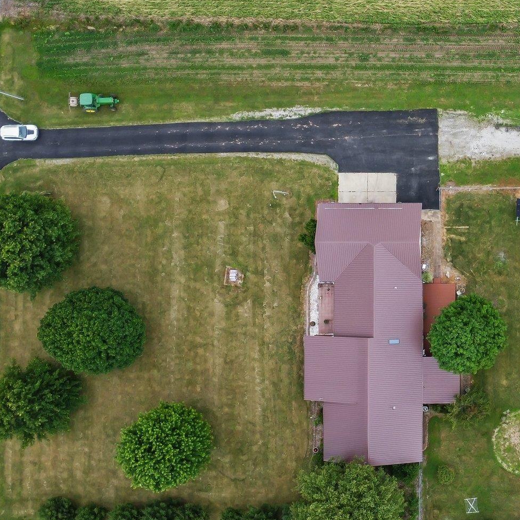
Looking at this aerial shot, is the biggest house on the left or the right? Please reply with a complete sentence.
The biggest house is on the right side of the image.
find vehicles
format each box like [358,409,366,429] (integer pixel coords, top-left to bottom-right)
[80,91,121,113]
[0,124,40,141]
